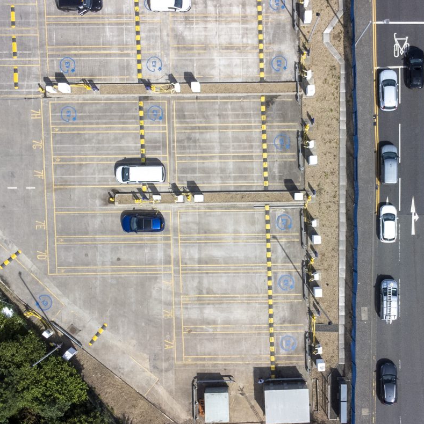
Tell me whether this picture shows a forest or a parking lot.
parking lot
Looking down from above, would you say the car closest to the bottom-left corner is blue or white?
blue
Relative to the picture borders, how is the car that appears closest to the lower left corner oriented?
from side to side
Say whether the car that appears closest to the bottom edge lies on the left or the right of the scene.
right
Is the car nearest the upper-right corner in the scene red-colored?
No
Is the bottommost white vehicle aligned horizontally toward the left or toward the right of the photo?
left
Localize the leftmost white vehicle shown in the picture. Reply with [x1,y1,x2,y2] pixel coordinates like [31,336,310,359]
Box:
[116,164,165,187]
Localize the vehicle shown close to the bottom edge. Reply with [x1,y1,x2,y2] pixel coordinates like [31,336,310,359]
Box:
[377,362,399,405]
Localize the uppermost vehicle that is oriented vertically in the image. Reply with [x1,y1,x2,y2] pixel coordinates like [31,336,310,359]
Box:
[404,47,424,91]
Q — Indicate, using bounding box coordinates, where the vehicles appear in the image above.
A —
[378,143,400,187]
[146,0,189,13]
[116,164,165,187]
[377,362,399,405]
[377,202,399,244]
[122,213,165,234]
[378,70,400,114]
[404,47,424,91]
[378,276,400,321]
[55,0,103,17]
